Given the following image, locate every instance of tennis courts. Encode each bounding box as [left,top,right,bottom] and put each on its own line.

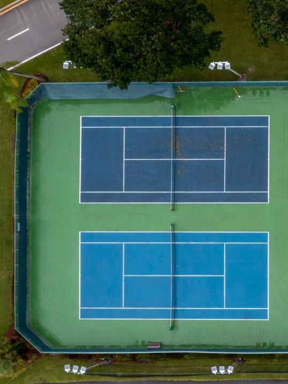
[80,231,269,319]
[80,116,269,203]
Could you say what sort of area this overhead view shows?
sports ground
